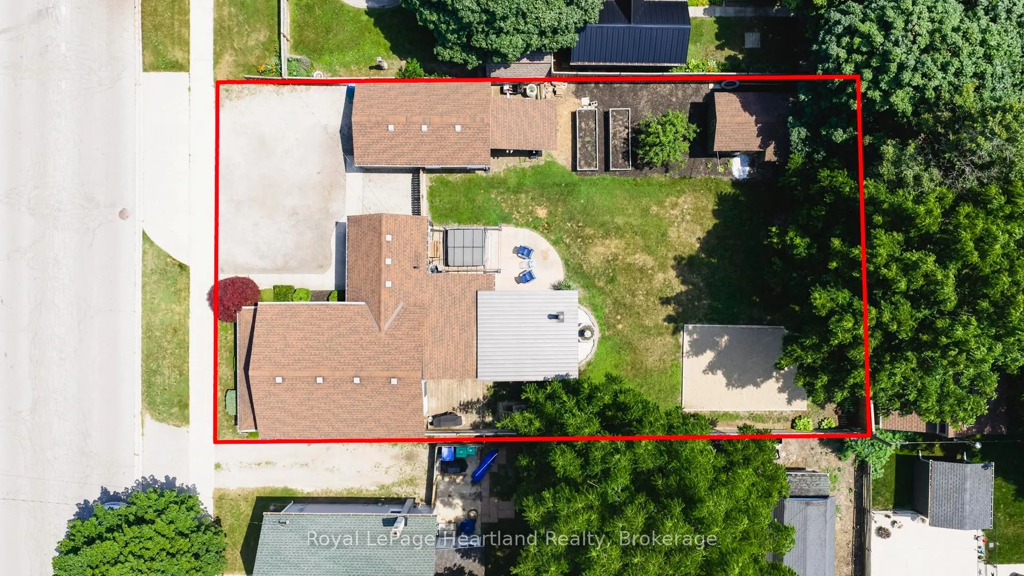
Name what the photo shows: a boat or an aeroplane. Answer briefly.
boat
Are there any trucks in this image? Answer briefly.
No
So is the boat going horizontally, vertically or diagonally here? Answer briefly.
diagonally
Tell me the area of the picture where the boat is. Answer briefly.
bottom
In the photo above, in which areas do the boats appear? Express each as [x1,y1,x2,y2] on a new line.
[472,449,498,481]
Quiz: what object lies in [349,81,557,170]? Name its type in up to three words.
building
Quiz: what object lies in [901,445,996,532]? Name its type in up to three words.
shed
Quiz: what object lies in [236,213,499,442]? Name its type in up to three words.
house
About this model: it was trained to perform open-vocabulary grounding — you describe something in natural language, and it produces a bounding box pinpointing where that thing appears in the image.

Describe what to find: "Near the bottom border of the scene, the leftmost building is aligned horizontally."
[254,496,437,576]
